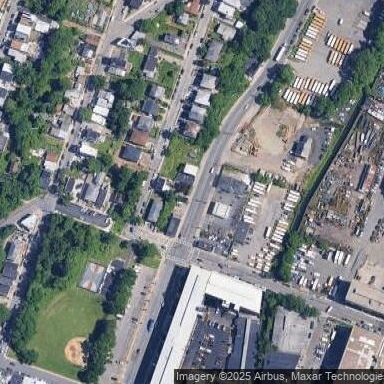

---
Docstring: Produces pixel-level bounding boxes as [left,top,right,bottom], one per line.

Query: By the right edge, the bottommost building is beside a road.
[335,326,384,384]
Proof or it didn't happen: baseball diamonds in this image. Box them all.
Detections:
[39,296,99,376]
